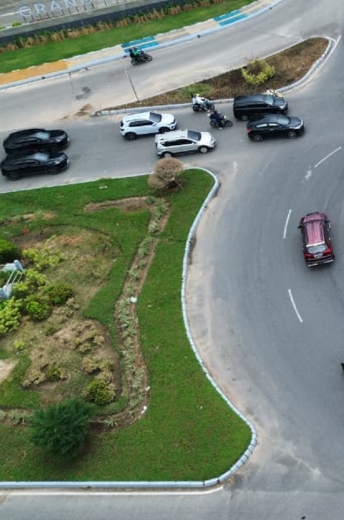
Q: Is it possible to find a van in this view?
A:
Yes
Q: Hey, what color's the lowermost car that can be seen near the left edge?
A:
black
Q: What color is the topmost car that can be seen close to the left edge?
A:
black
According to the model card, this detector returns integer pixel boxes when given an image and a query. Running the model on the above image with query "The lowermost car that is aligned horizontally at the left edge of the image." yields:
[0,148,67,180]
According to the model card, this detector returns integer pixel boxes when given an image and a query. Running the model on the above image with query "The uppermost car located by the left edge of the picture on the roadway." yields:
[0,124,68,152]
